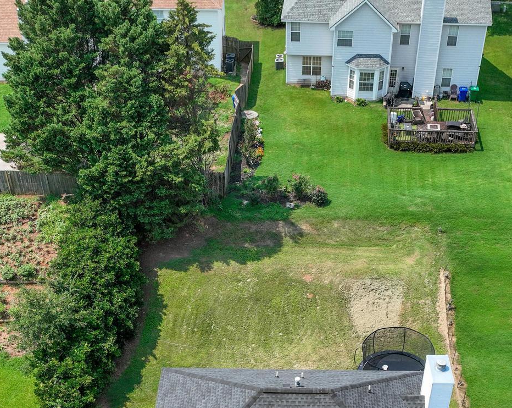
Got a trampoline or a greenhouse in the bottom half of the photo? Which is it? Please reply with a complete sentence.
It is a trampoline that can be seen in the bottom half of the photo.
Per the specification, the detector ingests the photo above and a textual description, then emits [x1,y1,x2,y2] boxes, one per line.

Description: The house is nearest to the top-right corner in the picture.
[280,0,494,100]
